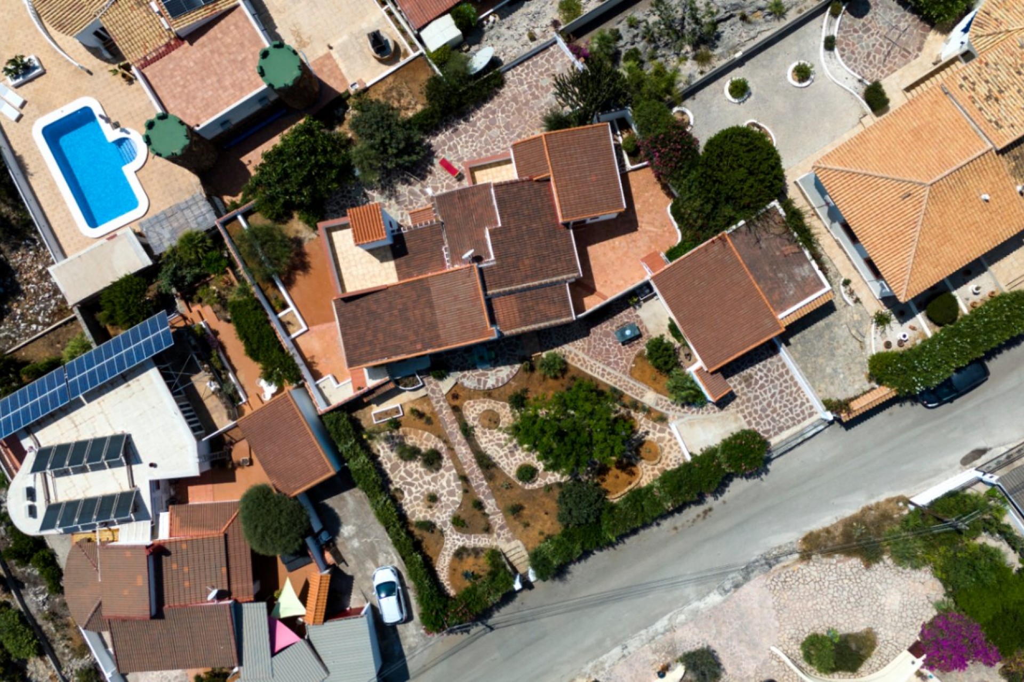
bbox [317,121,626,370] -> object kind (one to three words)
house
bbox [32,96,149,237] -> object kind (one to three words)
swimming pool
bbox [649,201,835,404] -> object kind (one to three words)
building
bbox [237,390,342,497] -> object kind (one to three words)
house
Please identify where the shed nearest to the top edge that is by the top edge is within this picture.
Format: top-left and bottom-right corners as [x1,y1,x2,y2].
[404,0,465,39]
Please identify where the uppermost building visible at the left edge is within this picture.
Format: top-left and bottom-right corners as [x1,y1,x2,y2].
[32,0,281,138]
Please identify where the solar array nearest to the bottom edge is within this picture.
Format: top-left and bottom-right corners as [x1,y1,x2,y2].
[40,489,139,532]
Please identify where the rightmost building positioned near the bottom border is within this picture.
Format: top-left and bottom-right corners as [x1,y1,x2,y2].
[308,600,385,682]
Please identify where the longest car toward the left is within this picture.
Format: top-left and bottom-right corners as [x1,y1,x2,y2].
[373,562,412,628]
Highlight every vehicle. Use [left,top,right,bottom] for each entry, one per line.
[373,562,412,628]
[915,362,992,410]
